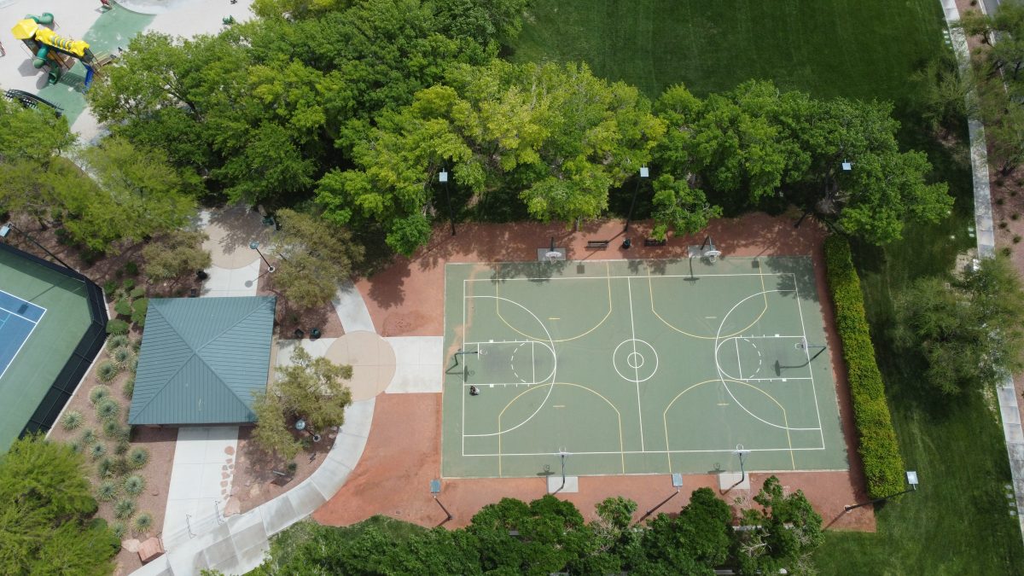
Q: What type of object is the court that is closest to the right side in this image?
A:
basketball court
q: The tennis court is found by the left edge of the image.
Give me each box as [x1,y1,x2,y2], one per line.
[0,248,111,463]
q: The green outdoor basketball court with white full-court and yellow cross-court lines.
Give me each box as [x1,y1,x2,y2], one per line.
[442,255,849,478]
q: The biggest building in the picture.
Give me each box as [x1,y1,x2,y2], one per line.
[126,294,276,426]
